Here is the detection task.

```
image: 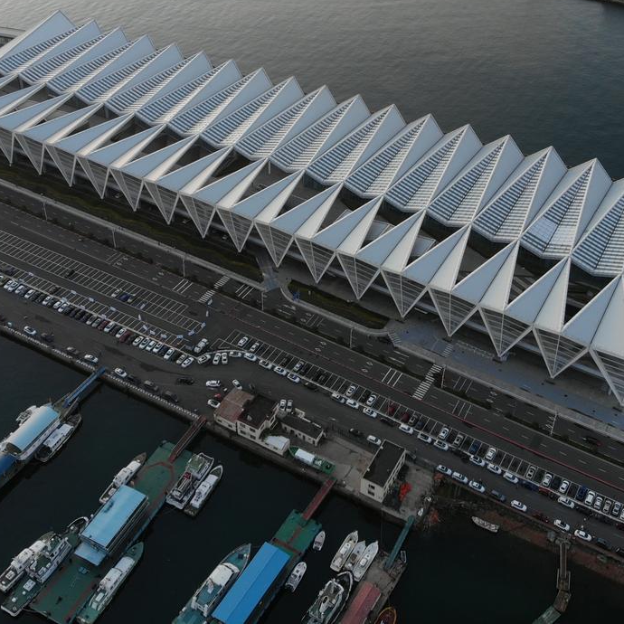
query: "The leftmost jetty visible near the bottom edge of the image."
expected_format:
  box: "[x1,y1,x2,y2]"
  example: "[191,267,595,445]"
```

[29,440,193,624]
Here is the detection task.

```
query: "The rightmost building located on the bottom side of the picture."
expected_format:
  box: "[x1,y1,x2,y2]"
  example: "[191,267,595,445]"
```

[362,439,406,501]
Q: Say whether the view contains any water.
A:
Yes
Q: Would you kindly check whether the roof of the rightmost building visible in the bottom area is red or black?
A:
black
